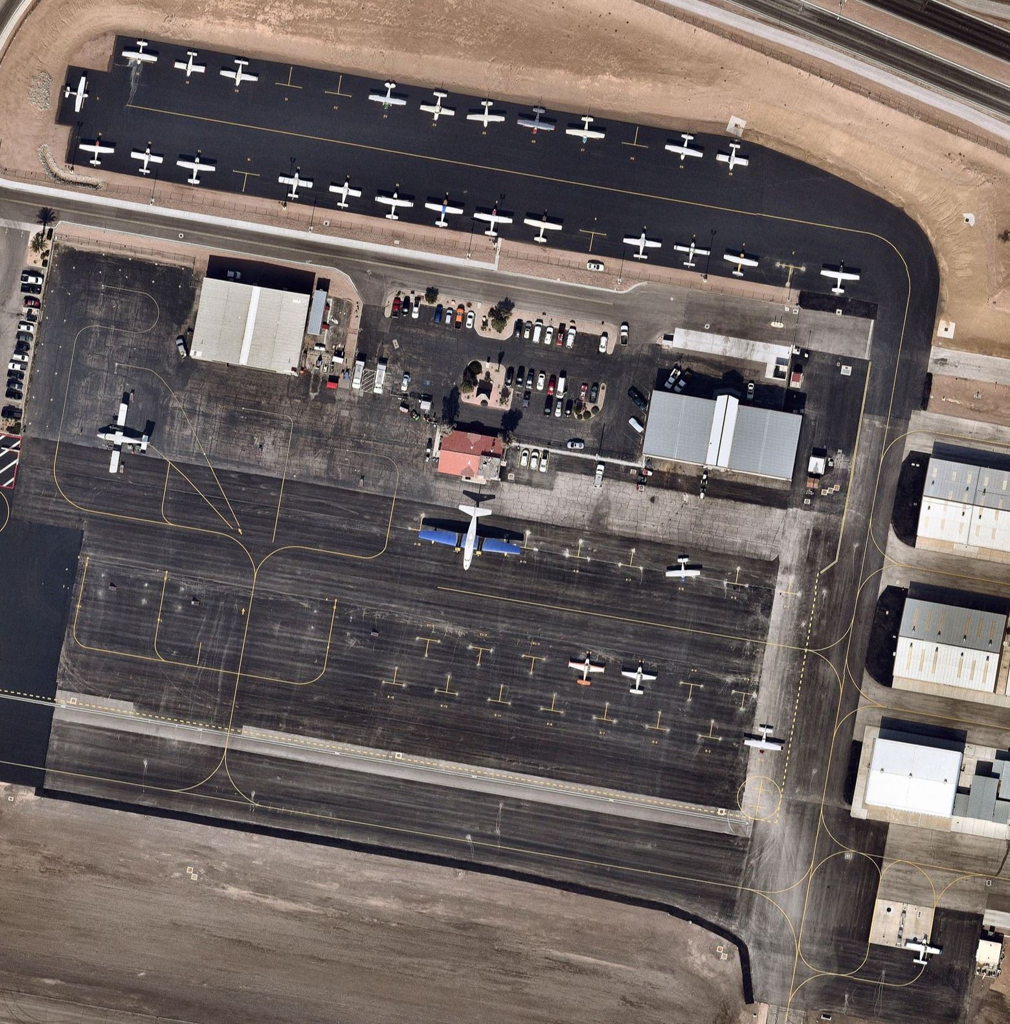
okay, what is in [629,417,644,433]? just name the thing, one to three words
car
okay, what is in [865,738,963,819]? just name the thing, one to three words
hangar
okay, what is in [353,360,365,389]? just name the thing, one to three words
vehicle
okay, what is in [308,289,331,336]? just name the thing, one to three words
building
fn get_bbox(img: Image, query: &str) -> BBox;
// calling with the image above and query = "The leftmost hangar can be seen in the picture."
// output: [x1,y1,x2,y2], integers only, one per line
[189,276,313,377]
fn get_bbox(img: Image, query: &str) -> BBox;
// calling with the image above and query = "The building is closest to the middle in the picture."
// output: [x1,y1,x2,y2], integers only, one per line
[435,429,505,487]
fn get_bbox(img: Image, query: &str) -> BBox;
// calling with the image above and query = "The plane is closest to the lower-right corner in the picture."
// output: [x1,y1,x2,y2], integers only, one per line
[906,939,942,965]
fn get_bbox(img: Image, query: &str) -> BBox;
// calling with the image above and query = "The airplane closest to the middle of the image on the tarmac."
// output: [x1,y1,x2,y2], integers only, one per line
[419,500,520,574]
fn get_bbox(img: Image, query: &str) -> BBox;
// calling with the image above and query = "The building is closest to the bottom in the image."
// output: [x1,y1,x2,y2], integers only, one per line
[975,935,1002,979]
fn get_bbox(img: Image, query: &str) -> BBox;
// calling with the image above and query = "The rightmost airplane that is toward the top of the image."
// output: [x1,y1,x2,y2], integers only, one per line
[821,265,860,293]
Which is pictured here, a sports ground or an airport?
airport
